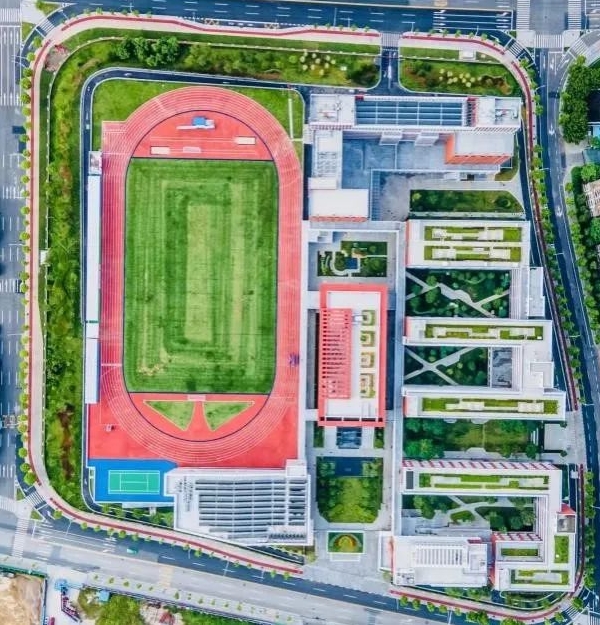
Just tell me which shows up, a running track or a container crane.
running track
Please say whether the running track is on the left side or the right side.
left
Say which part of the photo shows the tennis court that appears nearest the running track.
bottom left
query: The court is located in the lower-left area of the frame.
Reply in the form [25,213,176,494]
[87,459,176,504]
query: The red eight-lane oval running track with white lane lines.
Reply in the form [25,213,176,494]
[88,87,300,467]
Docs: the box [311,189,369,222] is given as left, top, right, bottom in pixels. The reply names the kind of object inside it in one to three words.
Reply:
building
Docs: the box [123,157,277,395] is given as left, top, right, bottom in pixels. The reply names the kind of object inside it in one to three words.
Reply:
sports field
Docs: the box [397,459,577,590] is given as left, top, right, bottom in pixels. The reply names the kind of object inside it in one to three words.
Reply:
building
